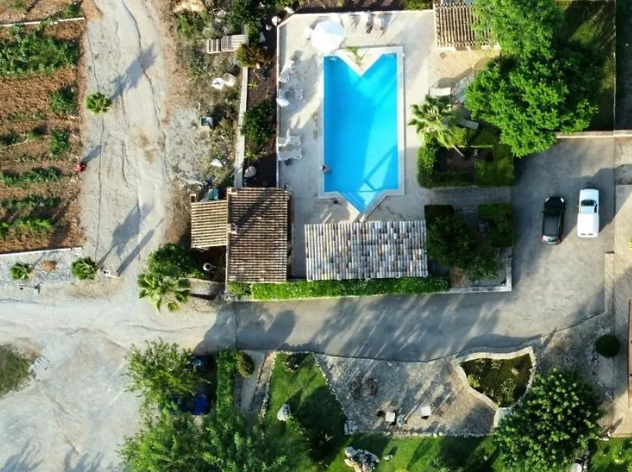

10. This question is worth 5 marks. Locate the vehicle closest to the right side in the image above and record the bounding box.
[576,189,601,238]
